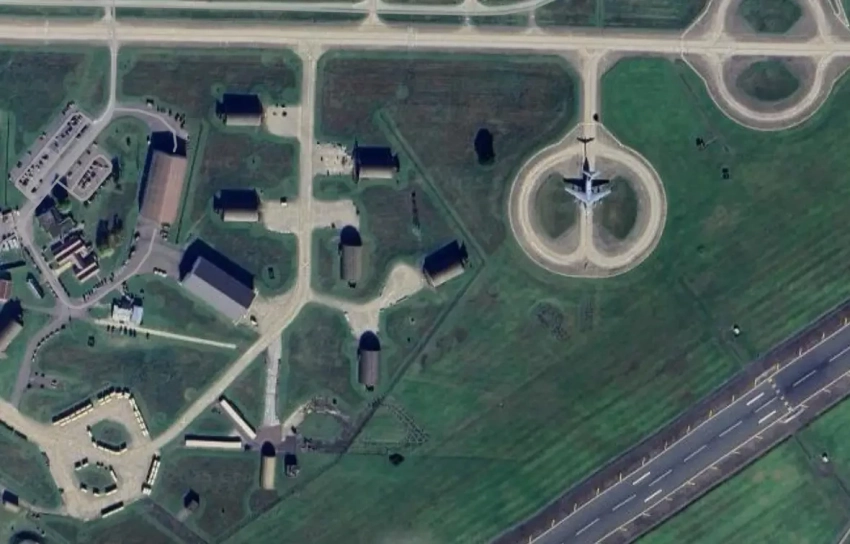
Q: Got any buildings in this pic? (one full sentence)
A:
Yes, a building appears in the view.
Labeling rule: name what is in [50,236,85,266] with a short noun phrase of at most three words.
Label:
building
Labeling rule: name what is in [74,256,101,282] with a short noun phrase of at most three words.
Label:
building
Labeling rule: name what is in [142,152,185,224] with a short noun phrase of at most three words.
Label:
hangar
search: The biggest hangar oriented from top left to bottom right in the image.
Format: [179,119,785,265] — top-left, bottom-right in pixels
[182,259,254,321]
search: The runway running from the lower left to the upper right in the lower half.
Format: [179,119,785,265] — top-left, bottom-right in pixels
[486,296,850,544]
